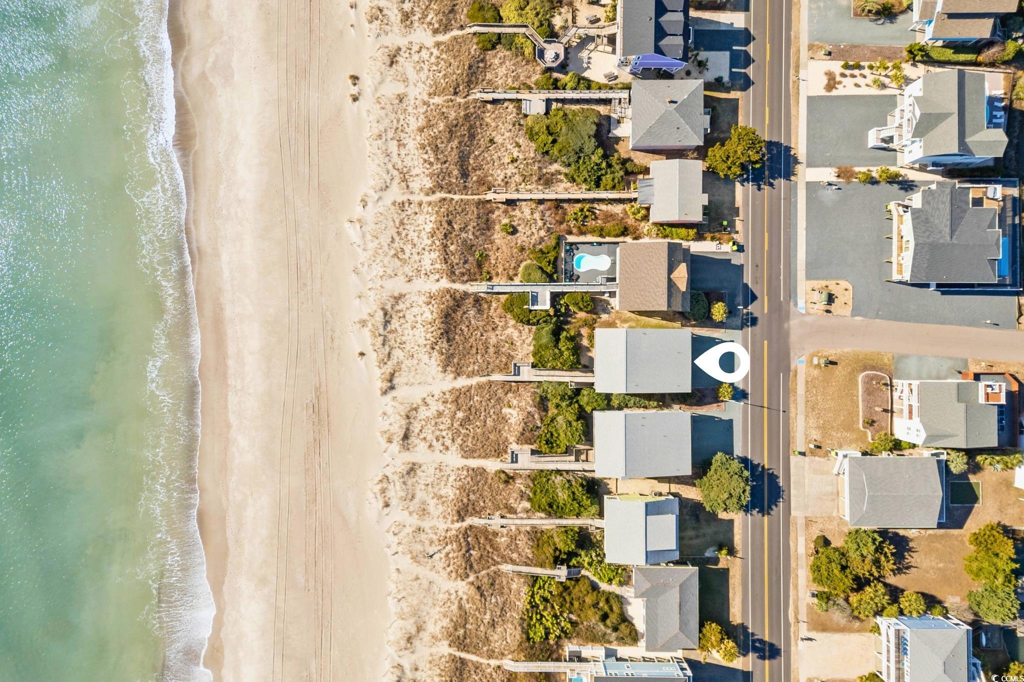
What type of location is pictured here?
residential area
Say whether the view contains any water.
Yes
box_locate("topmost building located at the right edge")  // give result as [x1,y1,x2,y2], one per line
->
[904,0,1019,55]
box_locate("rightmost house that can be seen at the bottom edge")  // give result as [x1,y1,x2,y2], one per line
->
[873,610,969,682]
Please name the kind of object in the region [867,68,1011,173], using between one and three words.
house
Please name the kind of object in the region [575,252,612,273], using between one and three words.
swimming pool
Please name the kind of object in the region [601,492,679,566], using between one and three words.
house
